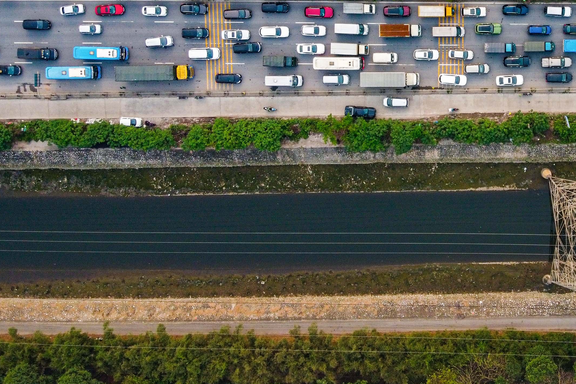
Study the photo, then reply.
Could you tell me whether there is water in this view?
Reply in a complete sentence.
Yes, water can be seen from above here.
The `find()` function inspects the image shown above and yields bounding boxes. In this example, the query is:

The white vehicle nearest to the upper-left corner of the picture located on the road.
[61,3,86,16]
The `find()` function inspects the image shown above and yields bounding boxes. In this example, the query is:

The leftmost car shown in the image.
[0,64,22,77]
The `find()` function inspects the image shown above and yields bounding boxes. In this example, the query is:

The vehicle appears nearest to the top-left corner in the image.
[23,18,52,31]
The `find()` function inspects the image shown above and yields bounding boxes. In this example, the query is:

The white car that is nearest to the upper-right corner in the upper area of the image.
[543,5,572,18]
